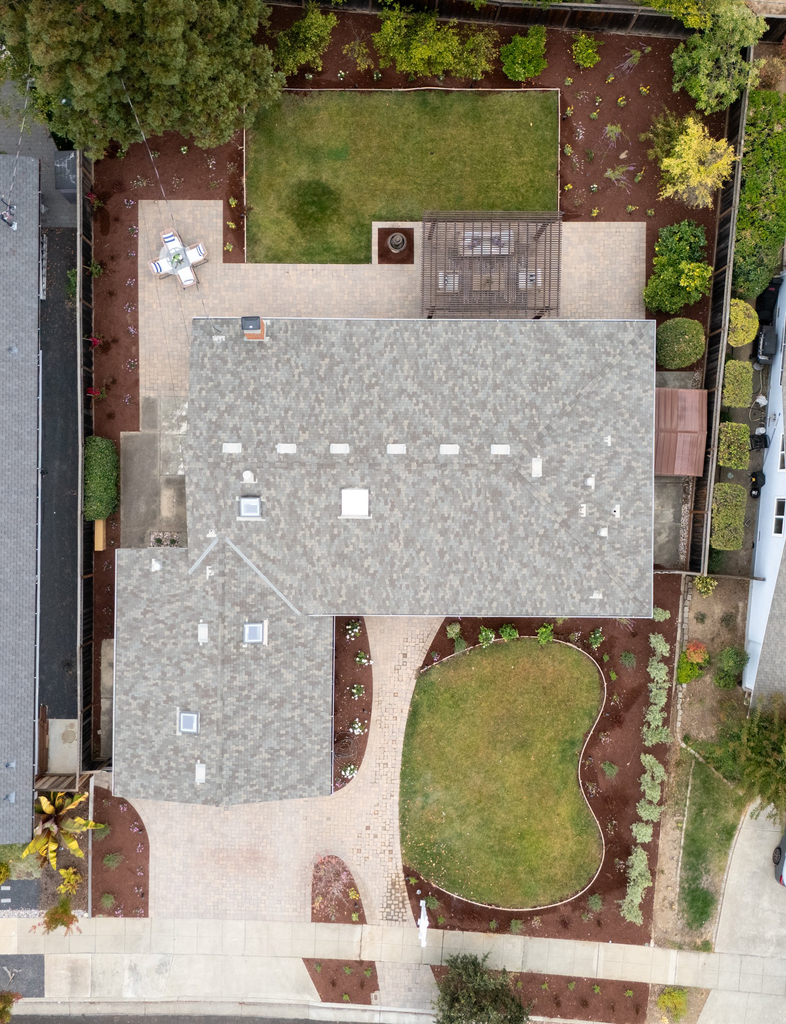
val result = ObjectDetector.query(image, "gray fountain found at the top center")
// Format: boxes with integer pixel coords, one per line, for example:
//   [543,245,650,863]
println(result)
[386,236,405,256]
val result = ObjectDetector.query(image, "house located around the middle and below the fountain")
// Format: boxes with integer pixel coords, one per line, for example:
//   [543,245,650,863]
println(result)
[112,317,657,808]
